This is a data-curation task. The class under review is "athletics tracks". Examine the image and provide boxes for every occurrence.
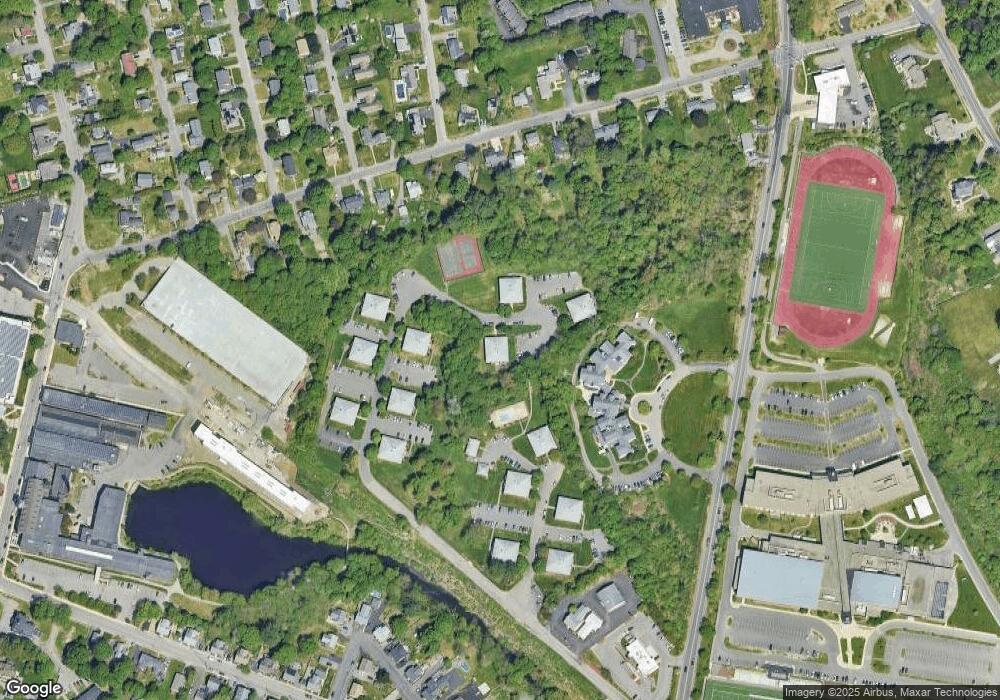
[773,145,904,349]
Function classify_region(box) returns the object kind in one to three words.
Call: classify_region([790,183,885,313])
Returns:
sports field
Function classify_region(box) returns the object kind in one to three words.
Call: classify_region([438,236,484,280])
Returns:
tennis court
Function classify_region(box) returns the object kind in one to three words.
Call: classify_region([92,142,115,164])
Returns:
house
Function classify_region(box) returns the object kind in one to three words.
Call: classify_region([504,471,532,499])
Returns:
building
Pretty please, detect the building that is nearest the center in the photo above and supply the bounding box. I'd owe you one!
[484,337,509,363]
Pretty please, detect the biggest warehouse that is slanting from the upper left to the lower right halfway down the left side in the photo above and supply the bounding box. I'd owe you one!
[141,258,309,404]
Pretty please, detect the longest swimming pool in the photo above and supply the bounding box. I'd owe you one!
[491,401,529,428]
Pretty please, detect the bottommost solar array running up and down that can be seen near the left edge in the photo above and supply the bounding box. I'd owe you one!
[0,321,24,397]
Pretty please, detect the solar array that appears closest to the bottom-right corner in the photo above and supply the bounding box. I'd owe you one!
[933,583,949,616]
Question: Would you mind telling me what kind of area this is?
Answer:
residential area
